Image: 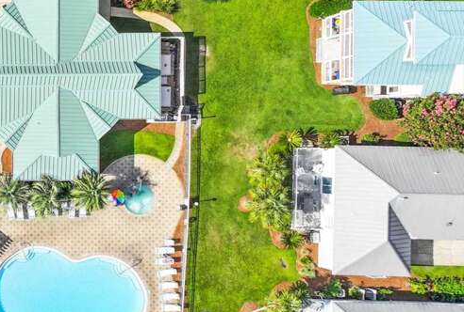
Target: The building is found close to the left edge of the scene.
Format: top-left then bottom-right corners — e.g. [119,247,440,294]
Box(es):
[0,0,161,182]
